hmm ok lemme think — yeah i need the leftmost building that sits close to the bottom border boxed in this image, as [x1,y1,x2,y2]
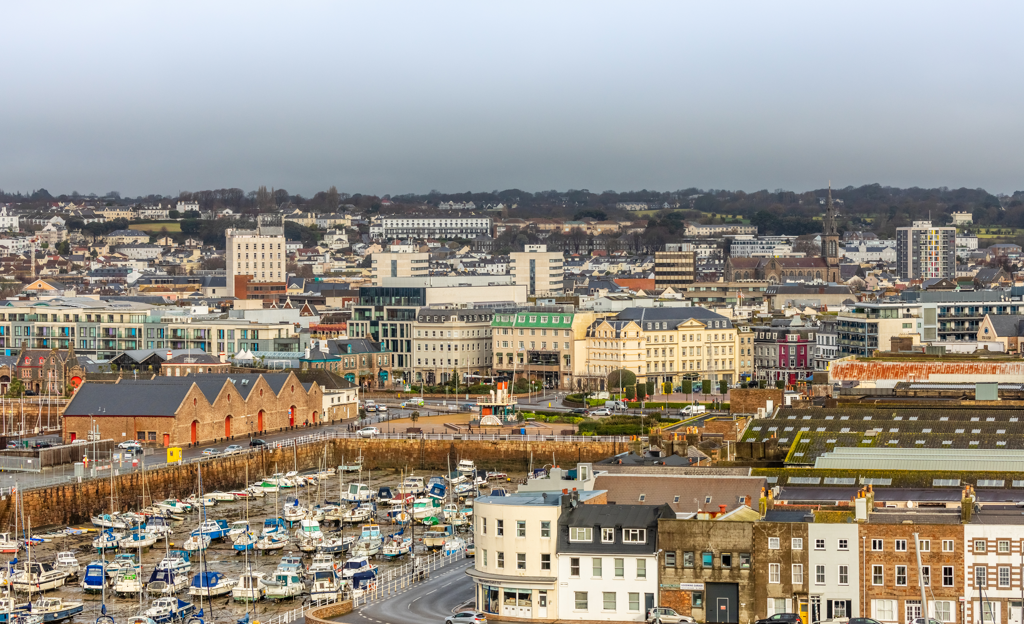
[462,486,563,616]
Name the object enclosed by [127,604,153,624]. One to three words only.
boat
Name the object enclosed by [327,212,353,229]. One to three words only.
house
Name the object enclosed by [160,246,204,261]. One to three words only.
house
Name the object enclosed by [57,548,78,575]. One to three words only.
boat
